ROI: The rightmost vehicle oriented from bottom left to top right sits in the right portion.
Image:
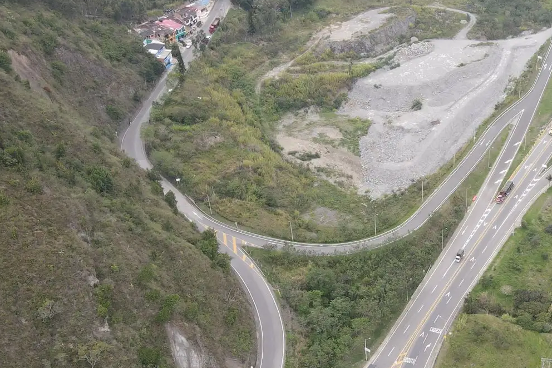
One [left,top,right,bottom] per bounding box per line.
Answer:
[496,179,513,203]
